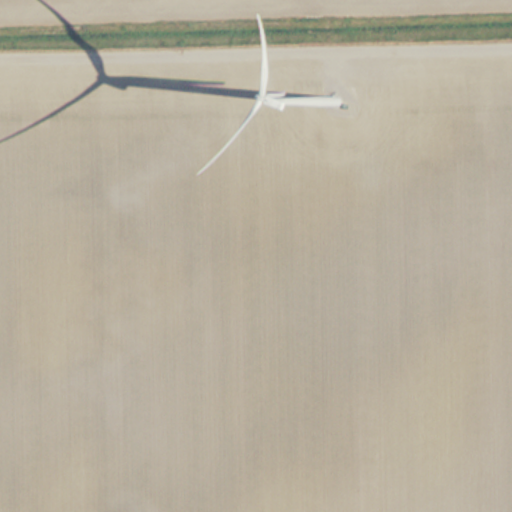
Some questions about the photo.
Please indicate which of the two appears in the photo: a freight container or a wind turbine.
wind turbine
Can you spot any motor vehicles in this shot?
No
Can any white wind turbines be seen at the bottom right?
No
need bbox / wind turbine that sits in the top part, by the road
[200,14,343,172]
